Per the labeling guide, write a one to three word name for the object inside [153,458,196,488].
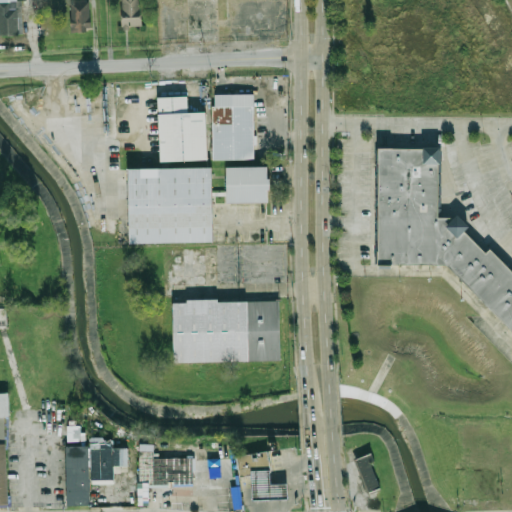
shed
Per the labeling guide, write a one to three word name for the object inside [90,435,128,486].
building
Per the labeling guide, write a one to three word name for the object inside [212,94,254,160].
building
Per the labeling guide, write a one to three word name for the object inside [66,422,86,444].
shed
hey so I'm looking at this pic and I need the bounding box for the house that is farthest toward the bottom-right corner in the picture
[356,455,382,498]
